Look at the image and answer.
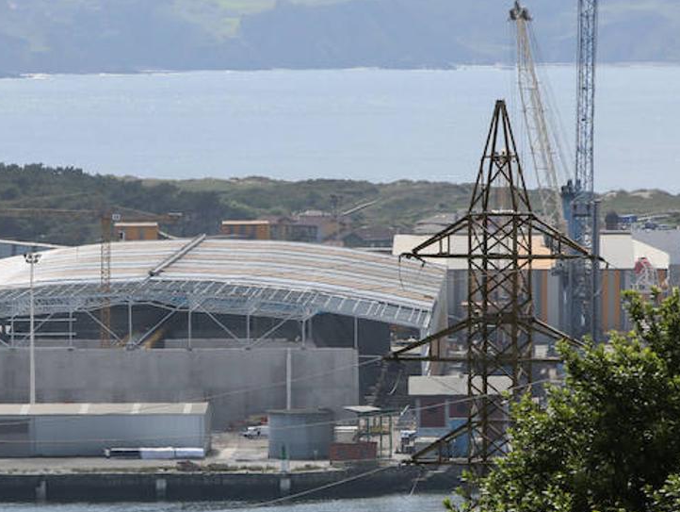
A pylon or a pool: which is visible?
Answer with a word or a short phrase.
pylon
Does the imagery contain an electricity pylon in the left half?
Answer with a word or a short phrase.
No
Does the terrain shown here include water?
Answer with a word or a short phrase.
Yes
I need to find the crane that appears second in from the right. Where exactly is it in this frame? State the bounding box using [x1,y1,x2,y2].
[510,0,573,354]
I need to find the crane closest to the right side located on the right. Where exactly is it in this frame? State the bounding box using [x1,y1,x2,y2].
[564,0,603,367]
